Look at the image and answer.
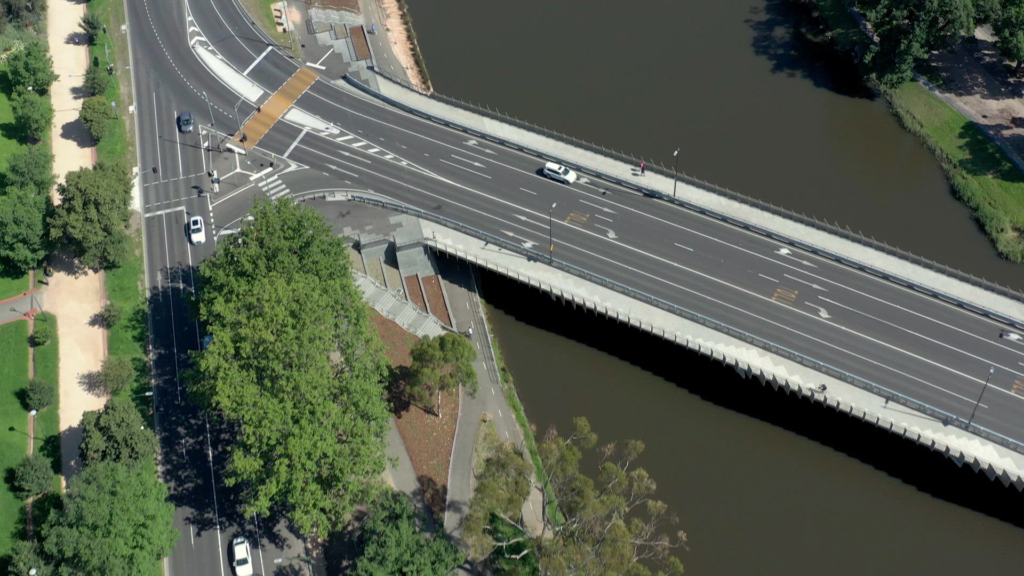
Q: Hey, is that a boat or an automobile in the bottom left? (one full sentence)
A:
You can see an automobile in the bottom left.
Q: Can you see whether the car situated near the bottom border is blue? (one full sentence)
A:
No, the car situated near the bottom border is white.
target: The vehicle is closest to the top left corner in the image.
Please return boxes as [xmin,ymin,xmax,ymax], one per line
[178,109,193,131]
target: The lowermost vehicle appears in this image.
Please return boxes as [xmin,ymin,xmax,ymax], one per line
[232,536,253,576]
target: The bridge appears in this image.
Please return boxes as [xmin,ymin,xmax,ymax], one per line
[375,69,1024,486]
